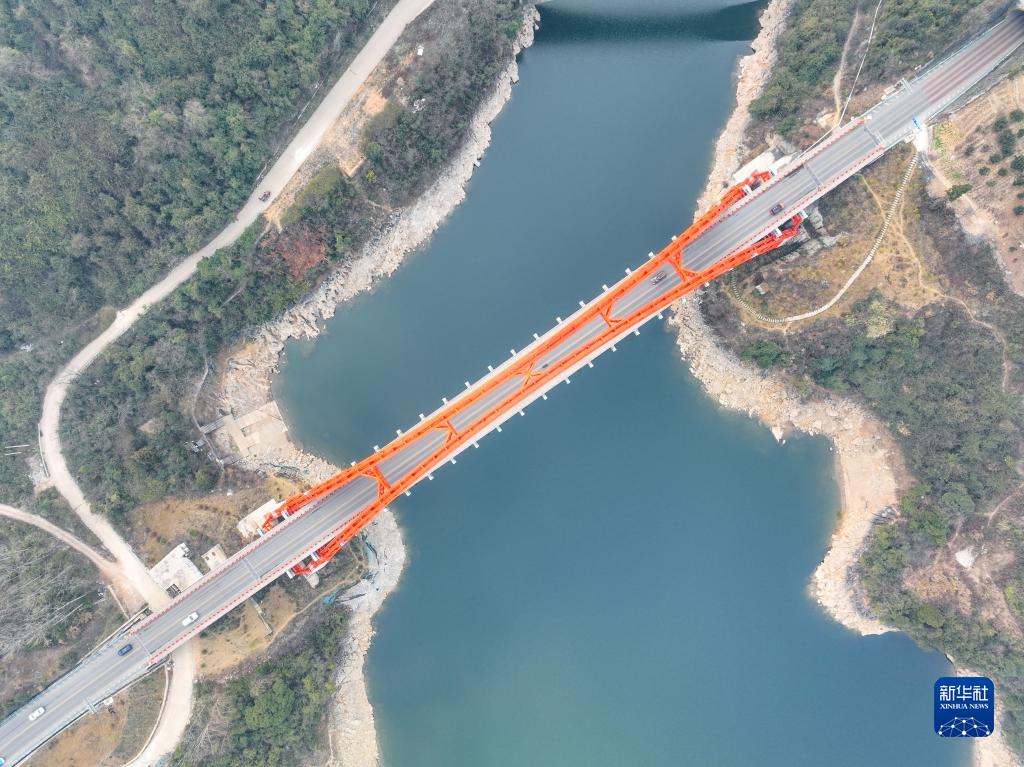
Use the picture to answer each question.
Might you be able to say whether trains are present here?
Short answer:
No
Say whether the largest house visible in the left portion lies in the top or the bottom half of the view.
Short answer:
bottom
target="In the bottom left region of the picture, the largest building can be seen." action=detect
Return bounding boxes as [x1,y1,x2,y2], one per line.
[148,541,210,601]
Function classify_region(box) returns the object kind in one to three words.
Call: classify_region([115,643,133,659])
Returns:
car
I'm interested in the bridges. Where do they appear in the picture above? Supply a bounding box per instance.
[111,104,887,667]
